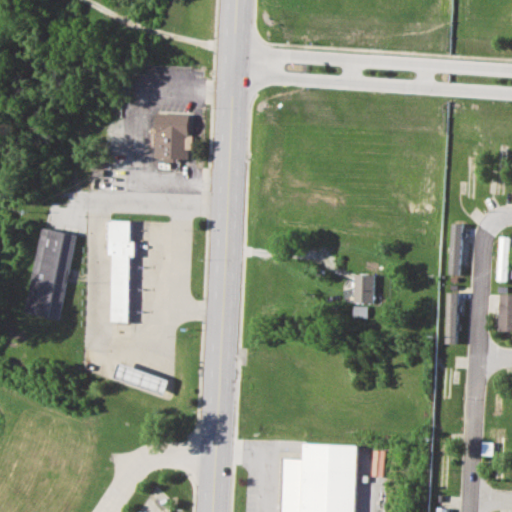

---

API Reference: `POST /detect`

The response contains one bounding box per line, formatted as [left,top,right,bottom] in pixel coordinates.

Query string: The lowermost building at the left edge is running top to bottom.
[23,230,74,322]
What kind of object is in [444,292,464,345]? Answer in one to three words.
house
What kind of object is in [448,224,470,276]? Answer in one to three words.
house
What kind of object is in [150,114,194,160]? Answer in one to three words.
building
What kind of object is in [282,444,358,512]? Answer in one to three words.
building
